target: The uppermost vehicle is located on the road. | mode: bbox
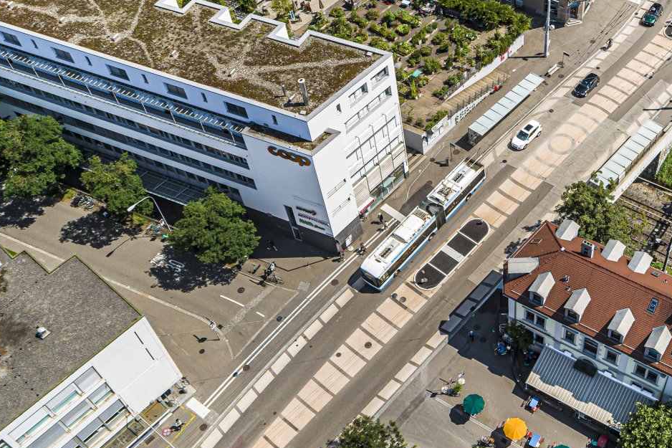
[642,2,664,24]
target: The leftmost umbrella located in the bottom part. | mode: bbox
[460,393,487,420]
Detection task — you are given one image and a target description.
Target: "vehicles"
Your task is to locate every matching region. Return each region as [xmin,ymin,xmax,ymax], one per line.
[362,120,503,292]
[642,2,664,24]
[572,72,603,97]
[510,118,543,148]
